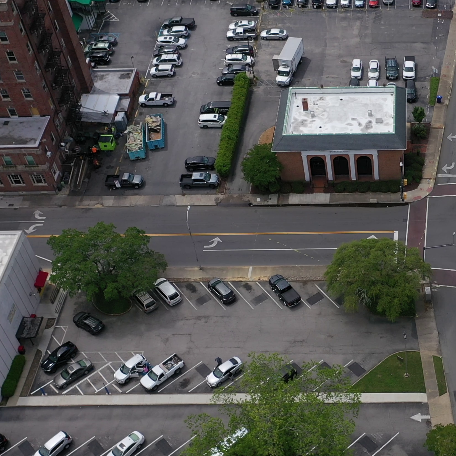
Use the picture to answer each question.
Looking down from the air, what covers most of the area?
paved ground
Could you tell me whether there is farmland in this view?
No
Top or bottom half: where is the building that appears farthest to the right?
top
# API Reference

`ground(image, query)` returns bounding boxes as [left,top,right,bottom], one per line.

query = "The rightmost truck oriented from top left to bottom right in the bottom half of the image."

[268,274,303,310]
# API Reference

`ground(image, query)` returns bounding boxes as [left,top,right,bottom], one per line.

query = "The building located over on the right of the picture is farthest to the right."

[270,79,407,181]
